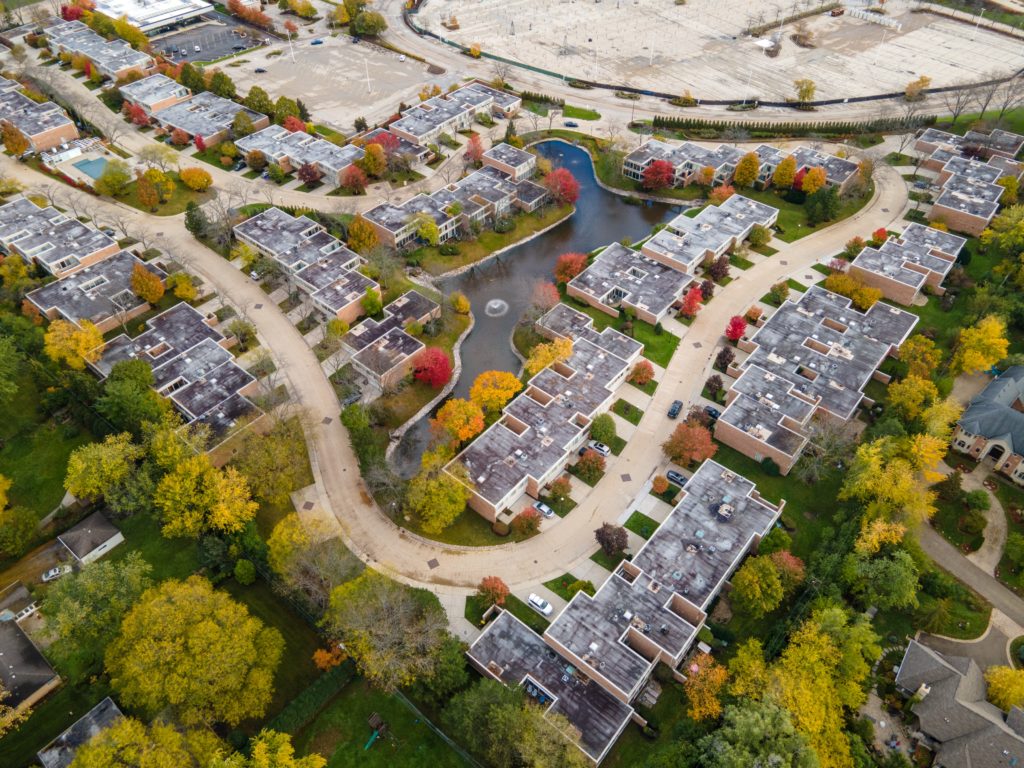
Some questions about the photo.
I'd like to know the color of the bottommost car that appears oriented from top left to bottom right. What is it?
white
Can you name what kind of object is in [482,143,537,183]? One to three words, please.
house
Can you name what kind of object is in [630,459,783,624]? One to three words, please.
house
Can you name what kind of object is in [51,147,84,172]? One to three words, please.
building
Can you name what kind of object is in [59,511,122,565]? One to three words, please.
building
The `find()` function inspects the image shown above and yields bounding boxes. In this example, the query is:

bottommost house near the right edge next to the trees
[881,627,1024,768]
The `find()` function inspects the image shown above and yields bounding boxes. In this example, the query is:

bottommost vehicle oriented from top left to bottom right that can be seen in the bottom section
[526,592,555,615]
